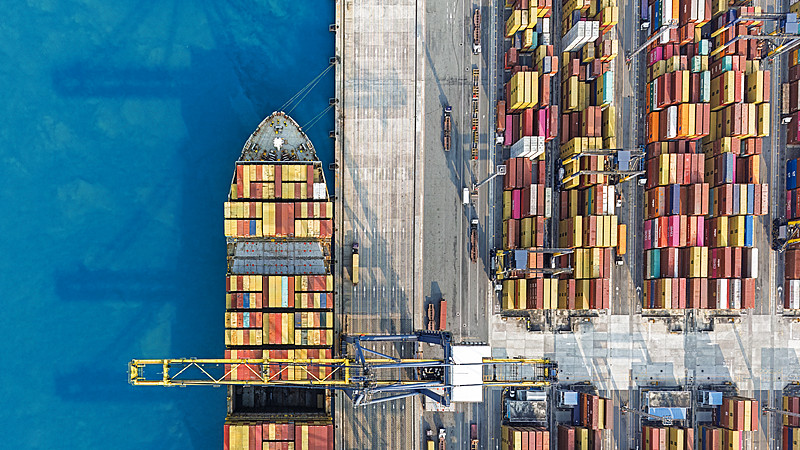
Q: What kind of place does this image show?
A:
port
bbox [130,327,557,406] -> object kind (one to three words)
container crane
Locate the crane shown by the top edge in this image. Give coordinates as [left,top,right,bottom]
[696,9,800,62]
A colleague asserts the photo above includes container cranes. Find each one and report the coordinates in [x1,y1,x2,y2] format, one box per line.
[130,327,557,406]
[555,141,648,183]
[775,219,800,254]
[696,9,800,62]
[489,246,577,281]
